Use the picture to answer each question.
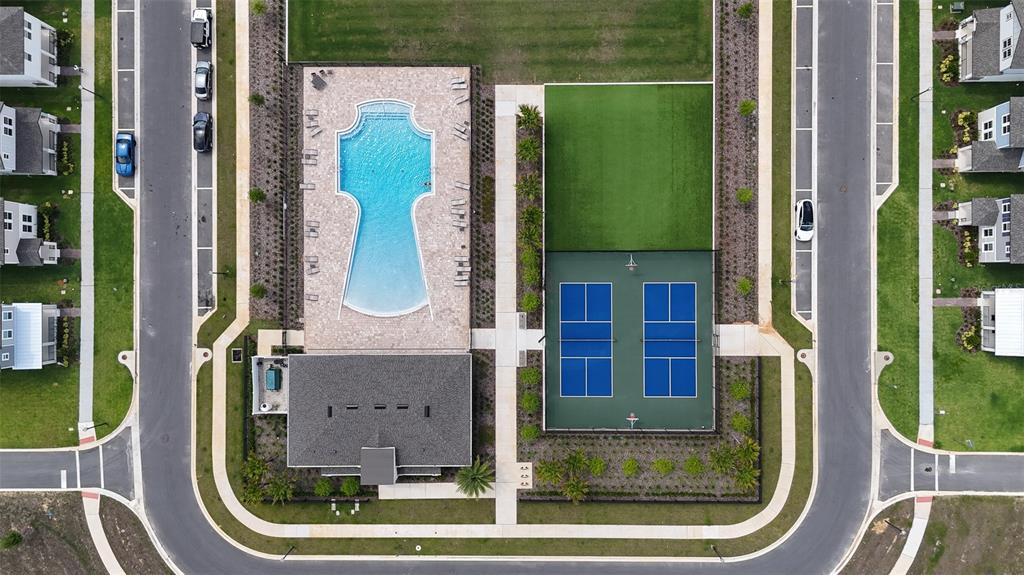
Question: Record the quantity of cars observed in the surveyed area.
five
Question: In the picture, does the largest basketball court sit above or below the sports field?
below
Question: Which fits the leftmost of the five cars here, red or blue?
blue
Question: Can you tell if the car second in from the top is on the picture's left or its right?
left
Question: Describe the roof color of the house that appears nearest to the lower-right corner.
white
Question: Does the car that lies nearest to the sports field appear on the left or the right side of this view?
right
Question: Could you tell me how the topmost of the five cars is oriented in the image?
from top to bottom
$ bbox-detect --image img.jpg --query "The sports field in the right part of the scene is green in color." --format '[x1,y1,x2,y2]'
[545,83,713,249]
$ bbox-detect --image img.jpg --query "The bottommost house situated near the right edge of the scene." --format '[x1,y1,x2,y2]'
[977,288,1024,357]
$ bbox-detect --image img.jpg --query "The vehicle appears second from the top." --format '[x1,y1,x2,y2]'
[193,62,213,102]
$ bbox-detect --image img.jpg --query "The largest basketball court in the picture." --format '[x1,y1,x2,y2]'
[545,250,713,428]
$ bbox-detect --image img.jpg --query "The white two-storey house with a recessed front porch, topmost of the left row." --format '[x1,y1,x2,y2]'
[0,7,60,86]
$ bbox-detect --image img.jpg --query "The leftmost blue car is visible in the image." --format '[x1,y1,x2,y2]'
[113,134,136,177]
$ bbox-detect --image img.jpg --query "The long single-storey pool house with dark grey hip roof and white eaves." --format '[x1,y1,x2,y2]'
[286,352,473,485]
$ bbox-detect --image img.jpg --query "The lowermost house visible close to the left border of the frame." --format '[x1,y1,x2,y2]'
[0,304,60,375]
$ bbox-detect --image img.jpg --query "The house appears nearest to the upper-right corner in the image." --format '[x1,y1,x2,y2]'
[957,2,1024,82]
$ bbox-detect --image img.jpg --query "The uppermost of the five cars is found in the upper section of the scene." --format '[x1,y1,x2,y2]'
[191,9,213,51]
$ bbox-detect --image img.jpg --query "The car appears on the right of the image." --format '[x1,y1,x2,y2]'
[795,200,816,241]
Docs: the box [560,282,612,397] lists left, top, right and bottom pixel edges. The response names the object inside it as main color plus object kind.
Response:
blue sports court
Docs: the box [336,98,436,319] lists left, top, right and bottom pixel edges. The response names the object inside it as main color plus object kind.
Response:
blue swimming pool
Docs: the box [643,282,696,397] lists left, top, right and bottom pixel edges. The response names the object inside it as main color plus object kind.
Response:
blue sports court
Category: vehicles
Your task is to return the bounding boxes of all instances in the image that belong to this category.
[191,9,213,51]
[193,62,213,102]
[795,200,816,241]
[113,134,136,177]
[192,113,213,153]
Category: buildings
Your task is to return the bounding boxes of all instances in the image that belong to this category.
[948,191,1024,263]
[977,288,1024,357]
[957,2,1024,82]
[0,197,60,267]
[0,101,60,176]
[286,352,473,485]
[0,7,60,86]
[0,304,60,375]
[956,98,1024,173]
